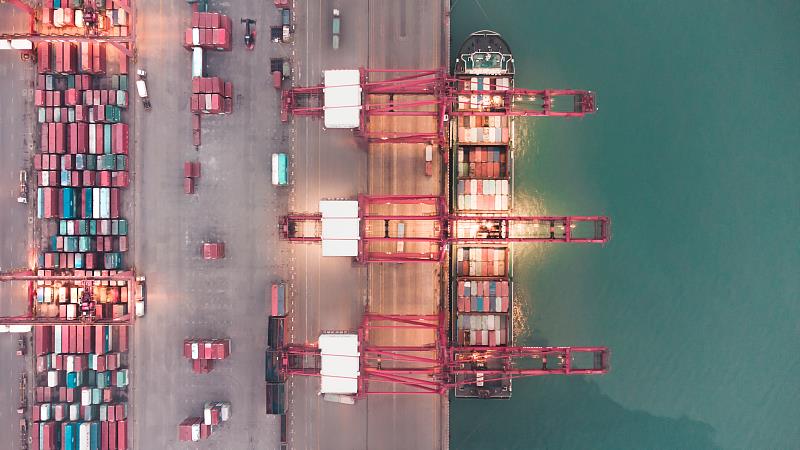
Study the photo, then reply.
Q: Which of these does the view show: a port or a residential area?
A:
port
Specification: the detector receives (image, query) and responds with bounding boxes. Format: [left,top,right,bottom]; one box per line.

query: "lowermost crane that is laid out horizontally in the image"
[280,303,613,398]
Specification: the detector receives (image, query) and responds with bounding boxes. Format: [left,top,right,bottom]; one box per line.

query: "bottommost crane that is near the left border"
[0,268,135,330]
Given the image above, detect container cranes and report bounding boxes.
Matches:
[280,194,613,264]
[280,69,600,160]
[0,268,135,330]
[0,0,135,59]
[280,303,613,398]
